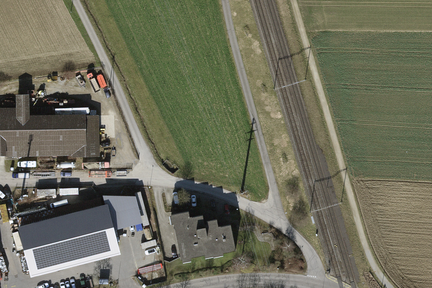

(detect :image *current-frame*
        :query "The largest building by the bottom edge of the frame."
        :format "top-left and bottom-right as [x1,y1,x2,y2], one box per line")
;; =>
[18,204,120,278]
